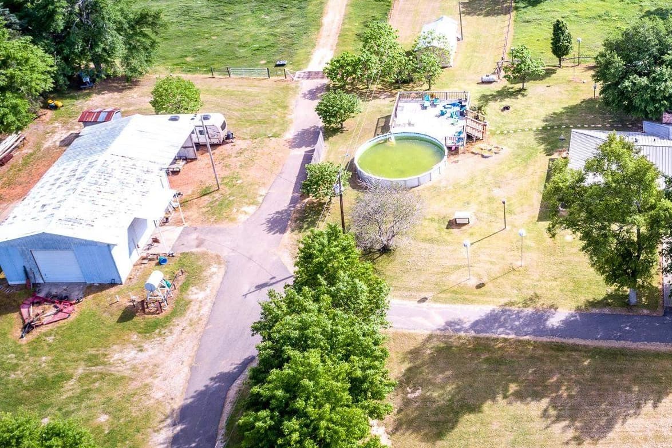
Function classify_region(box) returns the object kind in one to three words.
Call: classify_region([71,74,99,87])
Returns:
vehicle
